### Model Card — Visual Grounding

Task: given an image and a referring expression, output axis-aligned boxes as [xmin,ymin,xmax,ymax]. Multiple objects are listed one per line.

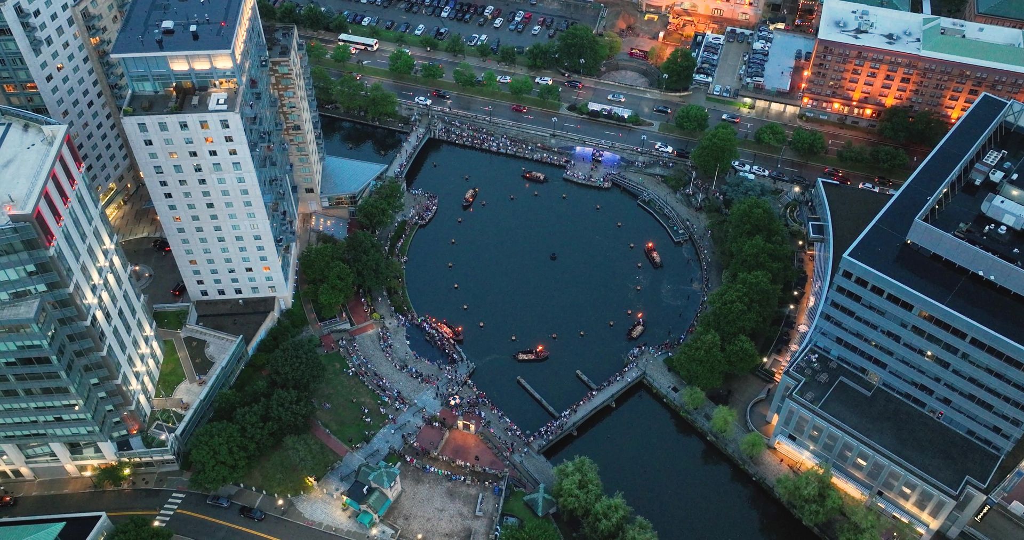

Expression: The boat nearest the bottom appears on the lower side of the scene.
[512,345,549,360]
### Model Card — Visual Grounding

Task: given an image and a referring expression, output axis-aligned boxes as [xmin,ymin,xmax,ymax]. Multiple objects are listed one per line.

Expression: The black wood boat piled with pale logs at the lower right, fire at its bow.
[626,312,646,340]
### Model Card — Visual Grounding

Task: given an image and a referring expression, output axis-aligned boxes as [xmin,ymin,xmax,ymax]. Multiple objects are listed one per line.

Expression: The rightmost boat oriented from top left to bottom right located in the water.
[646,240,665,268]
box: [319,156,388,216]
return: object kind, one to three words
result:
building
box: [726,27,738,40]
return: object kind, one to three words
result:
vehicle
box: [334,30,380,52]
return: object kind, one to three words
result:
bus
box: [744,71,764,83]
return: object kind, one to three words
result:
vehicle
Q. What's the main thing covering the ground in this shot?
buildings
